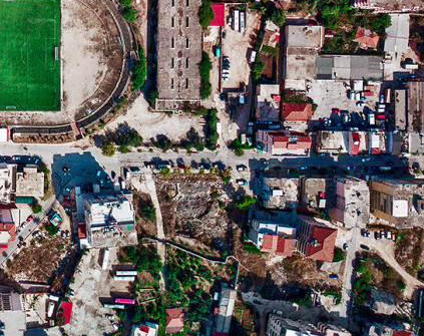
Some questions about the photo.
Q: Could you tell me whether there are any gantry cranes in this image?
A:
No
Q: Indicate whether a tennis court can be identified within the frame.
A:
No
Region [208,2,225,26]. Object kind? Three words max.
shed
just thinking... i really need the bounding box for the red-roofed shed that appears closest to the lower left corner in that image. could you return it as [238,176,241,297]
[57,299,73,324]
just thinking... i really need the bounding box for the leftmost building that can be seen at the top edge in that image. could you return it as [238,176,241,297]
[153,0,203,98]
